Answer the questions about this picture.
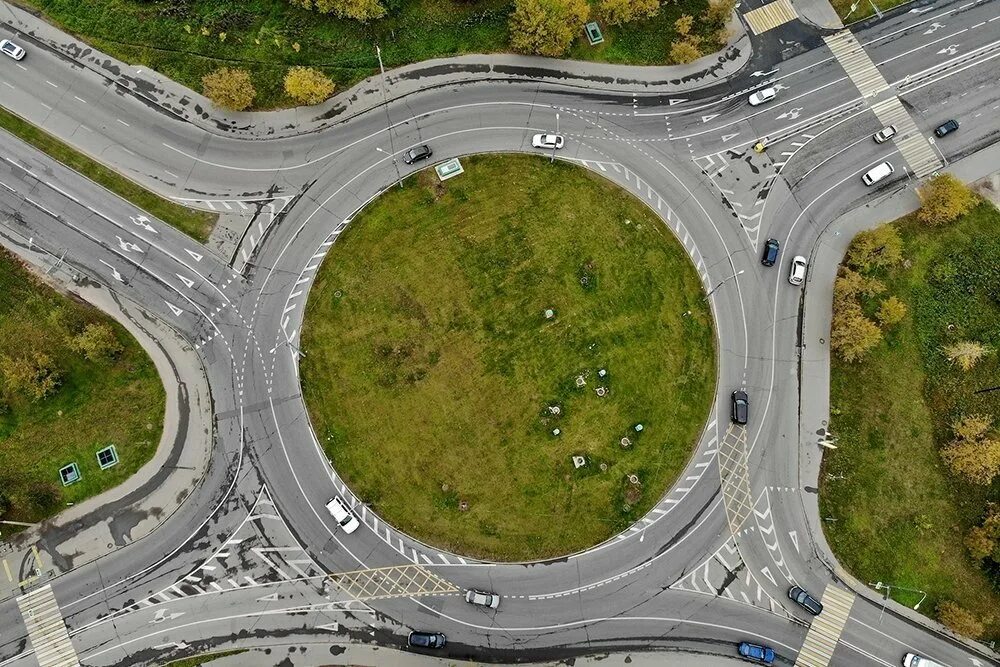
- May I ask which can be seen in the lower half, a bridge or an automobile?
automobile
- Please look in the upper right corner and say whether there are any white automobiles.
Yes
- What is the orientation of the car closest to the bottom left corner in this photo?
on a diagonal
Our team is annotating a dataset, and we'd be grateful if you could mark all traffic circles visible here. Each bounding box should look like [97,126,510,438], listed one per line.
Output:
[162,82,799,657]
